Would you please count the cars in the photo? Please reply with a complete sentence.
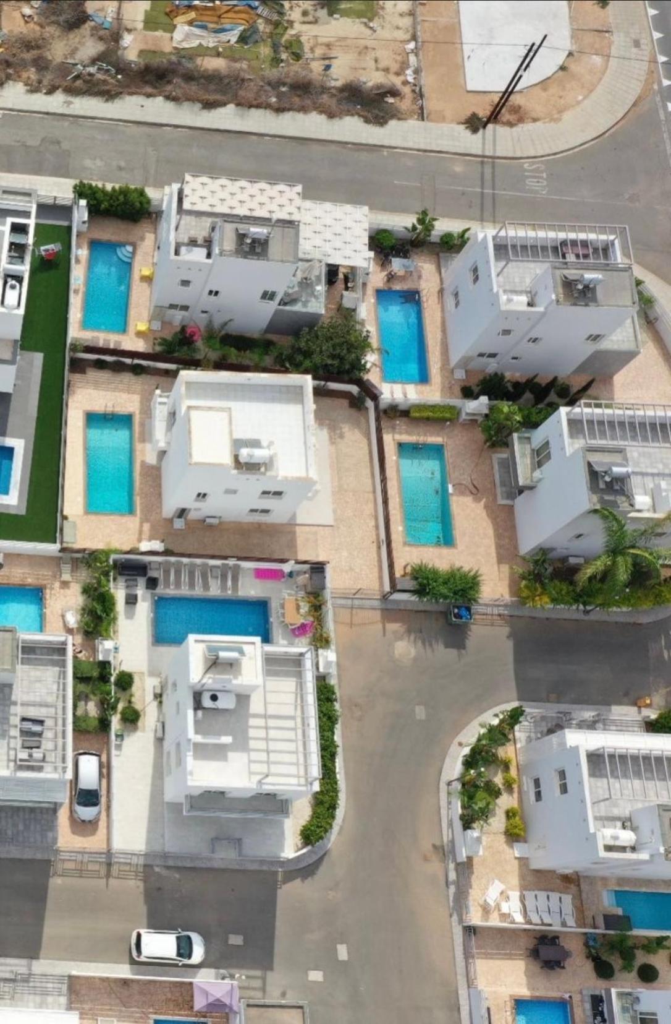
In total, there are 2 cars in the scene.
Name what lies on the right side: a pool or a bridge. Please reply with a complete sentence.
There is a pool on the right side.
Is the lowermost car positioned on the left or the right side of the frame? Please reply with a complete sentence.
The lowermost car sits on the left side.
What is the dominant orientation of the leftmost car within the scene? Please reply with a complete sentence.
I'd say the leftmost car is aligned up and down in the picture.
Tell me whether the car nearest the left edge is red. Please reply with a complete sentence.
No, the car nearest the left edge is white.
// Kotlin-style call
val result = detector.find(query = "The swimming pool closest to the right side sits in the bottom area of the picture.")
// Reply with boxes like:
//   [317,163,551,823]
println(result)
[608,884,671,935]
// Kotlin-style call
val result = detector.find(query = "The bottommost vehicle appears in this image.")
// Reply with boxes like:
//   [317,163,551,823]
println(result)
[131,928,205,967]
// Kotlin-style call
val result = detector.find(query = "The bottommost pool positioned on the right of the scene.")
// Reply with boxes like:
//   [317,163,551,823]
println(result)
[511,994,581,1024]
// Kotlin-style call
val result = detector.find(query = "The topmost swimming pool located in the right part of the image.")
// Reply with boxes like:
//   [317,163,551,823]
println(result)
[373,285,434,385]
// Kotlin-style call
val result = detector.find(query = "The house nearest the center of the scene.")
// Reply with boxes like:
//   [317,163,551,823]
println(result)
[149,371,317,524]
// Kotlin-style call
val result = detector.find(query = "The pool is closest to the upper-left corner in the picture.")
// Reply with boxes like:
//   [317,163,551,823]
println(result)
[79,236,137,336]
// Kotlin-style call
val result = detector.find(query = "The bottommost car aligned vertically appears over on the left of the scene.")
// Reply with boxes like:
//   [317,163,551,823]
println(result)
[70,750,105,823]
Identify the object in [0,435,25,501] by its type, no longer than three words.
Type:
swimming pool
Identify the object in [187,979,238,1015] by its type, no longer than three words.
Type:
gazebo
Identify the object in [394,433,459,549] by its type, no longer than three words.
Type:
swimming pool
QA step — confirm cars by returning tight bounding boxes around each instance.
[70,750,105,823]
[131,928,205,967]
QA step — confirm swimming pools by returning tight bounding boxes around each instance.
[608,884,671,935]
[511,994,581,1024]
[0,435,25,501]
[394,433,459,549]
[150,1014,215,1024]
[82,403,138,518]
[0,582,47,634]
[79,236,137,336]
[150,591,275,648]
[373,285,434,385]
